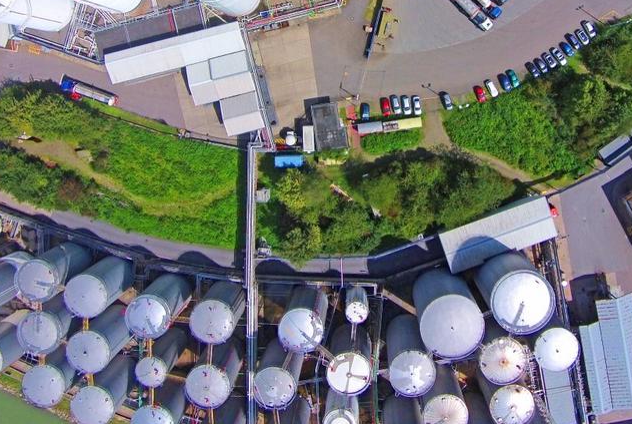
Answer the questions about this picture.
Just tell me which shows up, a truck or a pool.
truck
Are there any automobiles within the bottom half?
No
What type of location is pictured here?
industrial area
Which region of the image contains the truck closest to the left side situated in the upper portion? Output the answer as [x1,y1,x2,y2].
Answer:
[63,76,123,107]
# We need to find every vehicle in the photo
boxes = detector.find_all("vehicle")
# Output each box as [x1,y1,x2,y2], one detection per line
[542,52,559,70]
[442,91,452,110]
[551,48,568,65]
[559,41,574,58]
[412,96,421,115]
[381,99,390,115]
[526,62,542,79]
[581,20,599,39]
[506,71,519,88]
[361,103,369,119]
[391,96,400,115]
[566,32,582,51]
[63,76,123,107]
[574,28,591,46]
[401,96,411,115]
[475,0,503,21]
[498,74,512,93]
[450,0,494,34]
[474,85,485,103]
[534,58,550,75]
